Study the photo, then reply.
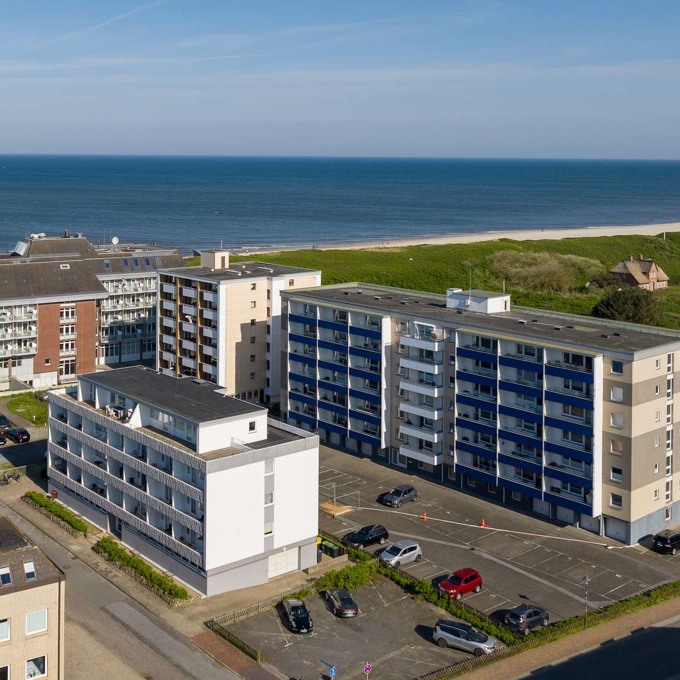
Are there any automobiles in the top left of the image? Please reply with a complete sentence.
No, no automobile is visible in the top left of the image.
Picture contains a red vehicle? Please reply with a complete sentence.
Yes, you can see a red vehicle in this photo.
